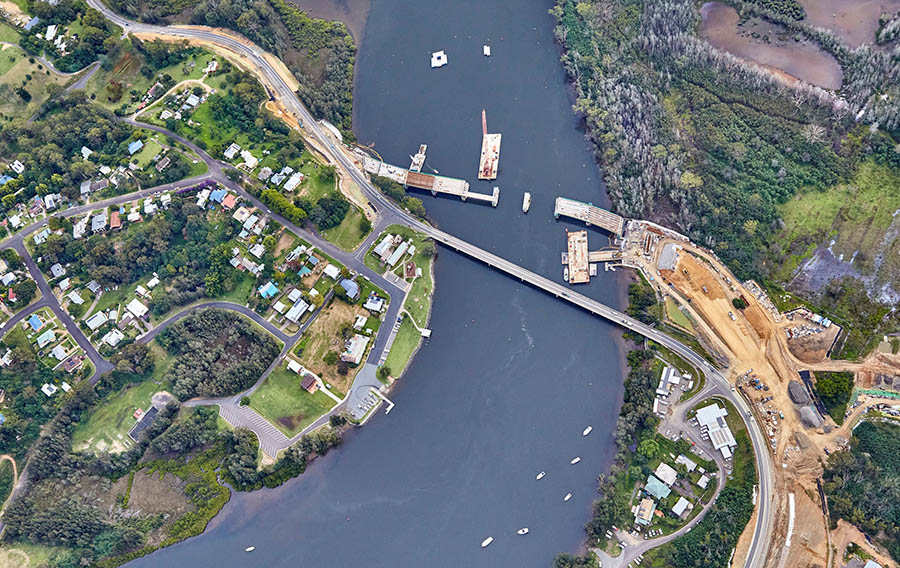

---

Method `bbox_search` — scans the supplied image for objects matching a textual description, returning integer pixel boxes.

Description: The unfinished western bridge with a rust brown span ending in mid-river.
[359,153,499,210]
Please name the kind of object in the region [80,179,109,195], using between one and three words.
house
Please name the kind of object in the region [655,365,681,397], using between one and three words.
building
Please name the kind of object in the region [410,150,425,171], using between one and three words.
ship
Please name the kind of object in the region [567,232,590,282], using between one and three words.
ship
